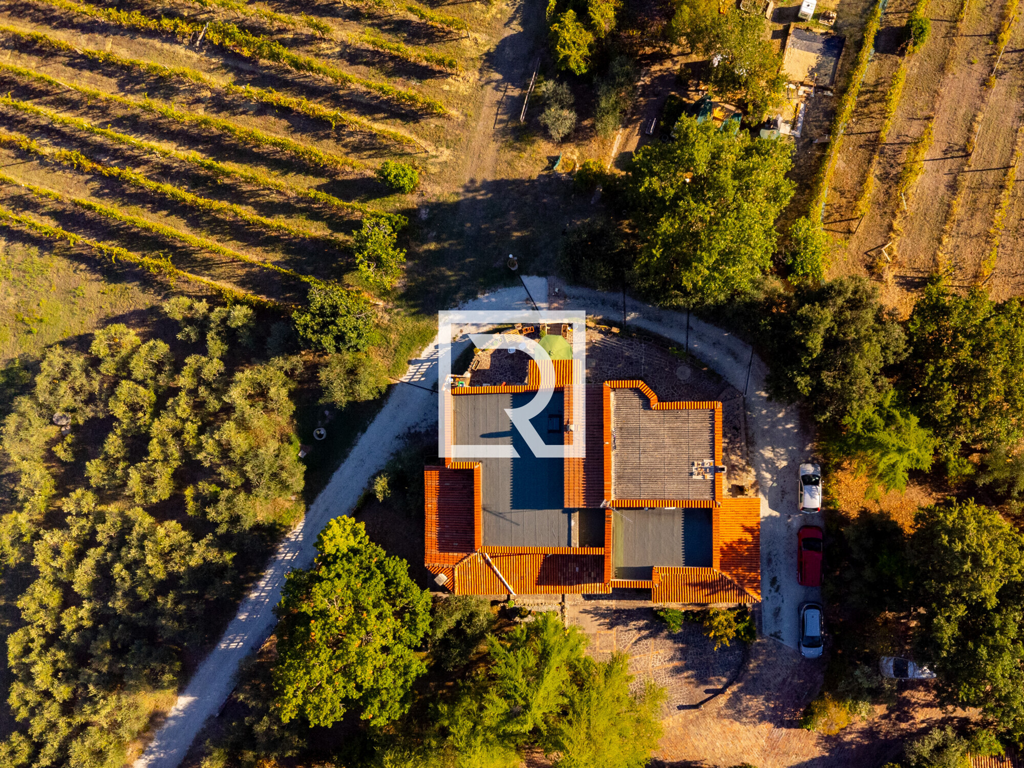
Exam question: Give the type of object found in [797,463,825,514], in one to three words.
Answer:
car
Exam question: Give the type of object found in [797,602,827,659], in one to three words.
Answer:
car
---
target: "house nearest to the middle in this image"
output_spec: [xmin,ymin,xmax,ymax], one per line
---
[424,359,763,604]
